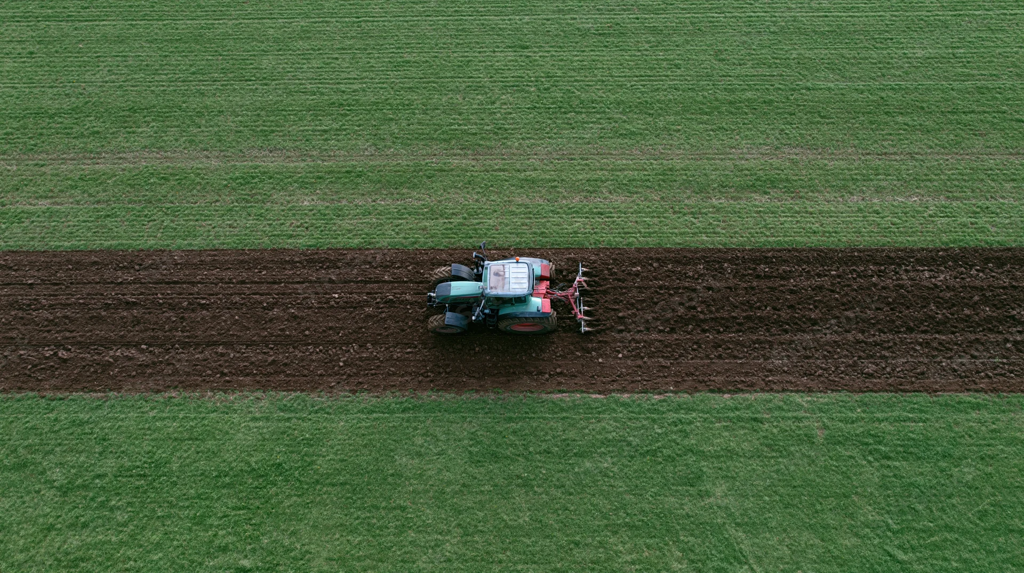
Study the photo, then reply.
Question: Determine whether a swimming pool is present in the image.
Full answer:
No, no swimming pool is visible in the scene.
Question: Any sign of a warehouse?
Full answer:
No, there appears to be no warehouse in this shot.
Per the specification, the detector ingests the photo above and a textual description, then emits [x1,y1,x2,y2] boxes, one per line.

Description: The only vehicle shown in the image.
[427,240,556,335]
